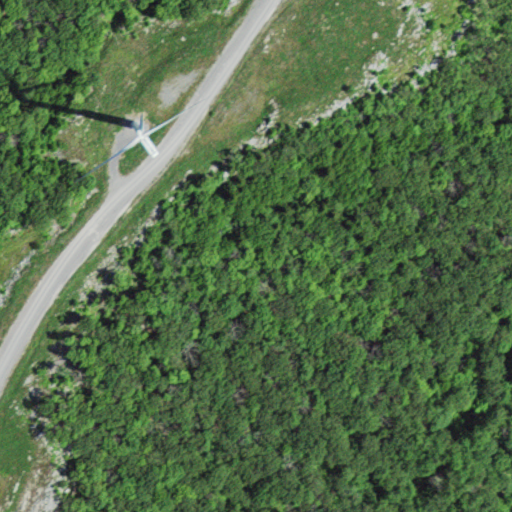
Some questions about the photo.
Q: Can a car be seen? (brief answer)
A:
No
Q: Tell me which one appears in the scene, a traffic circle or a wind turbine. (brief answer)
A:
wind turbine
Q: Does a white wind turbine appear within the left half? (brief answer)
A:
Yes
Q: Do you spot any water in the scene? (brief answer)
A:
No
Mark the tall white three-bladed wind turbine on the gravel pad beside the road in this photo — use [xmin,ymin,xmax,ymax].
[66,96,202,183]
